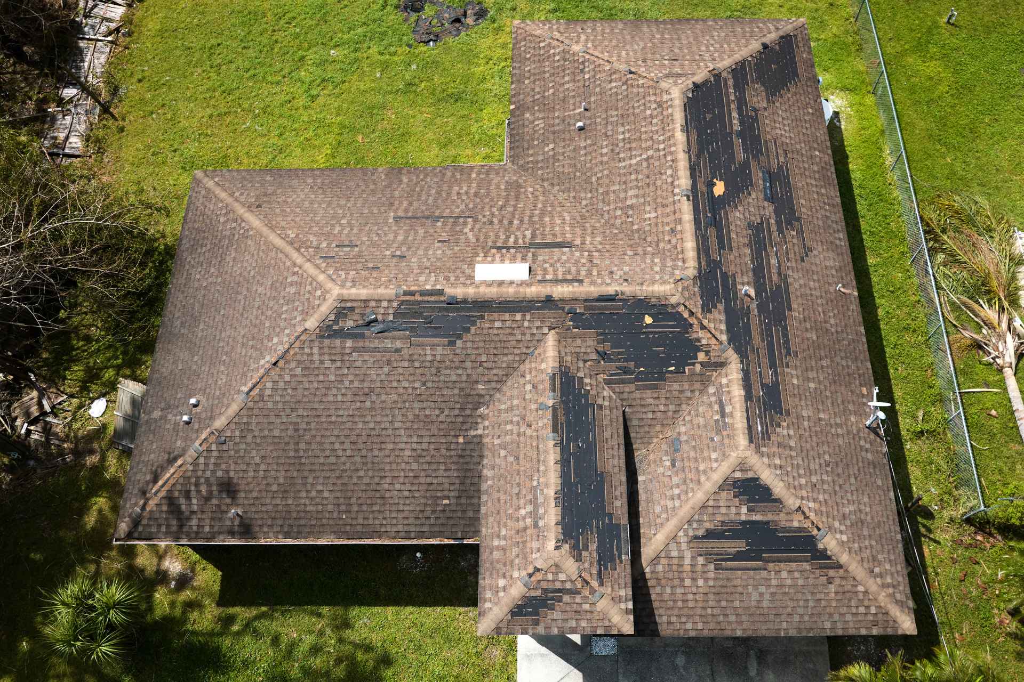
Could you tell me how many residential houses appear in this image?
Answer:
1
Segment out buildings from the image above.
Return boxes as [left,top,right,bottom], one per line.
[114,18,917,638]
